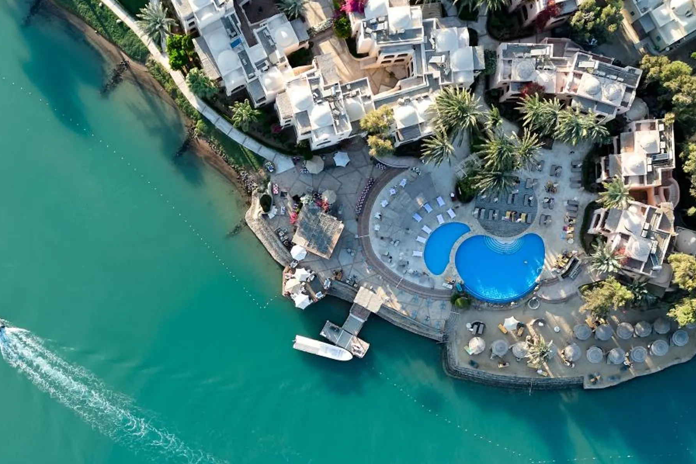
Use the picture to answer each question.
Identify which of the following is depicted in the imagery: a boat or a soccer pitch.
boat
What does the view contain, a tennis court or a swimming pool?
swimming pool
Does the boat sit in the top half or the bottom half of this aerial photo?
bottom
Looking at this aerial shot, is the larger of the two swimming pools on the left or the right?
right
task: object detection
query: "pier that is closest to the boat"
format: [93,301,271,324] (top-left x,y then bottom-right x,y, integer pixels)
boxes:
[320,287,382,358]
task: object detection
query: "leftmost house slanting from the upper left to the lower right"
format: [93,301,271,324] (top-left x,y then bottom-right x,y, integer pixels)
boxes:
[173,0,266,108]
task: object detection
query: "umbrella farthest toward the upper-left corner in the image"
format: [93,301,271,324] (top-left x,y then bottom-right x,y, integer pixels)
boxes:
[306,155,324,174]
